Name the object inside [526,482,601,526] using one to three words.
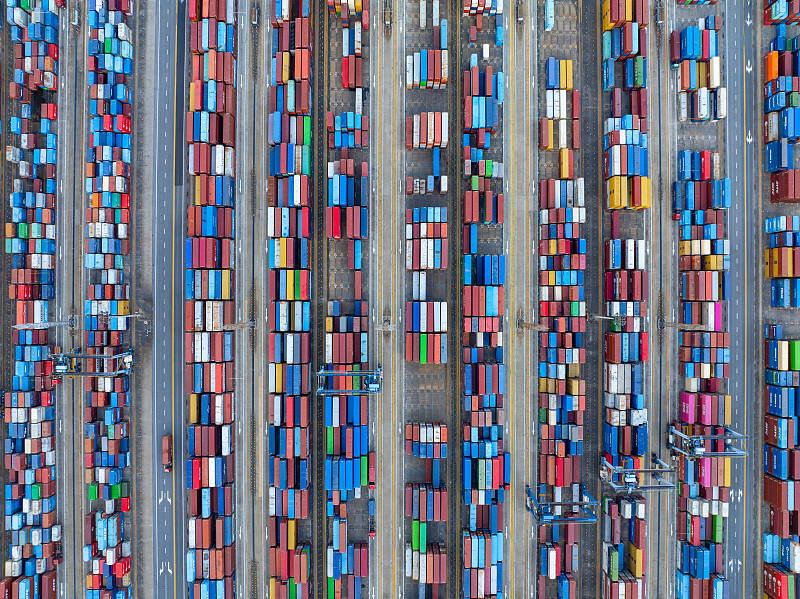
container crane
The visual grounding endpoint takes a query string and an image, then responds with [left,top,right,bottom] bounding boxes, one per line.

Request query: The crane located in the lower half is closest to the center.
[314,363,384,394]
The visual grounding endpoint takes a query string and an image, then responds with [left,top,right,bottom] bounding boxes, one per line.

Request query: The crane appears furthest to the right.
[668,424,756,462]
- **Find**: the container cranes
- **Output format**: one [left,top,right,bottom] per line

[526,482,601,526]
[314,363,384,394]
[50,347,134,379]
[668,424,756,462]
[600,454,678,493]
